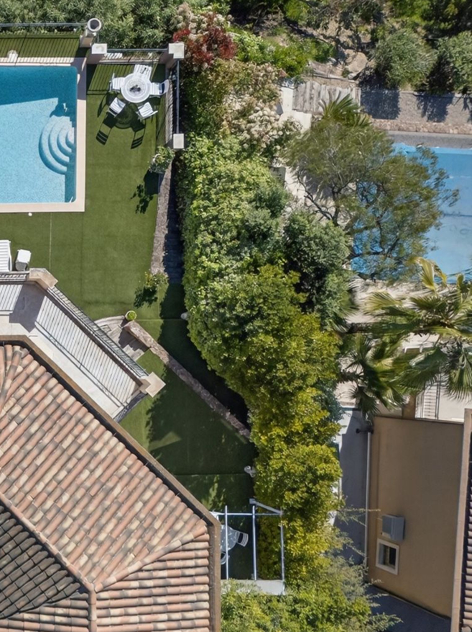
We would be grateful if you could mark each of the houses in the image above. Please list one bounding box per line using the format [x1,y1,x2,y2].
[0,339,220,632]
[371,409,472,632]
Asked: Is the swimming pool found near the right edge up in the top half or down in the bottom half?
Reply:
top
